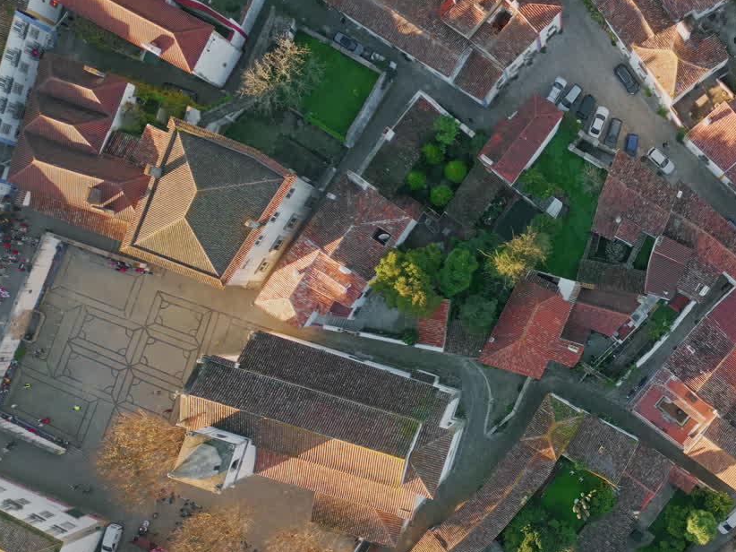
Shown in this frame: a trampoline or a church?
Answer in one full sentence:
The one in the frame is a church.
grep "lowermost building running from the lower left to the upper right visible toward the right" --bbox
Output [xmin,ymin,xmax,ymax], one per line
[581,480,654,552]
